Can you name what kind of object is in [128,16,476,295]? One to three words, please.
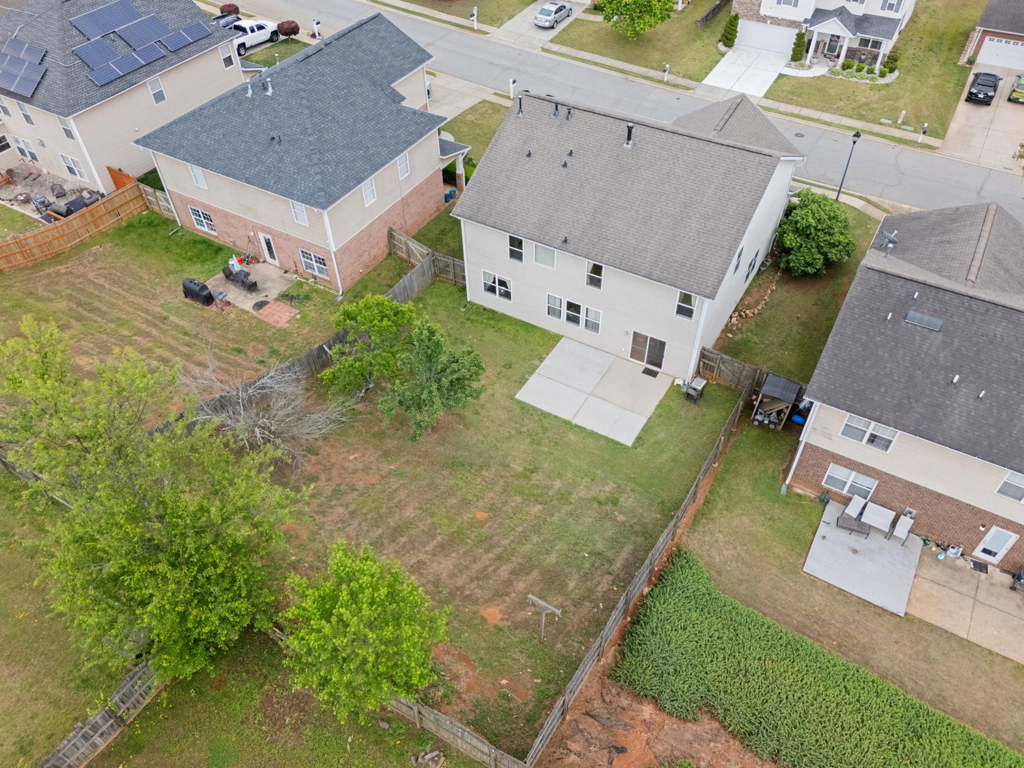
house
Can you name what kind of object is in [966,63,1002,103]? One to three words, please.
car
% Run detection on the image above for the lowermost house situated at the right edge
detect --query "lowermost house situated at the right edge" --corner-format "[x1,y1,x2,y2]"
[782,200,1024,576]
